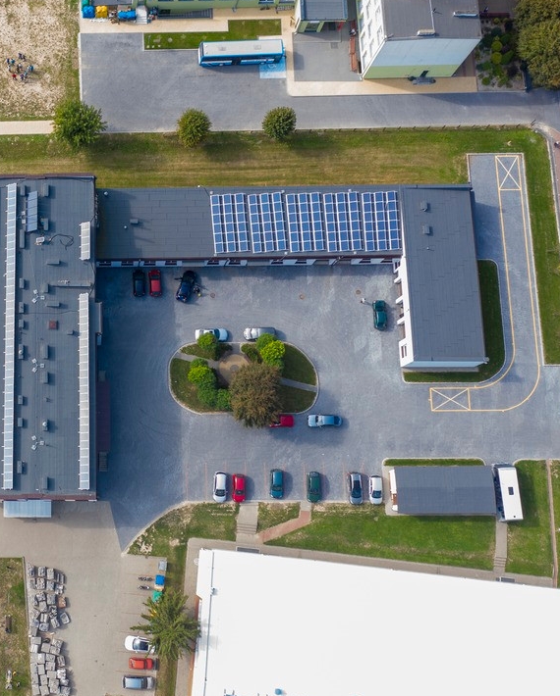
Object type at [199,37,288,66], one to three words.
bus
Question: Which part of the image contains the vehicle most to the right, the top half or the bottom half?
bottom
